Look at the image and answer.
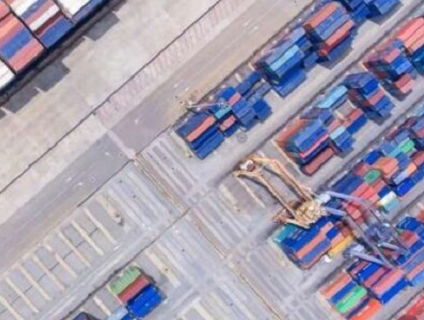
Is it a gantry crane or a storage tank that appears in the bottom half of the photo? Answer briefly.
gantry crane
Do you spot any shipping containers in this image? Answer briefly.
Yes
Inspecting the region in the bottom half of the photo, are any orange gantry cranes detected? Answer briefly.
No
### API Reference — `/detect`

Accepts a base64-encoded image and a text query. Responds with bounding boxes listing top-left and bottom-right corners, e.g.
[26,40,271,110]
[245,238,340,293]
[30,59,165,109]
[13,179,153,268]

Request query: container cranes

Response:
[232,154,326,235]
[316,189,415,271]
